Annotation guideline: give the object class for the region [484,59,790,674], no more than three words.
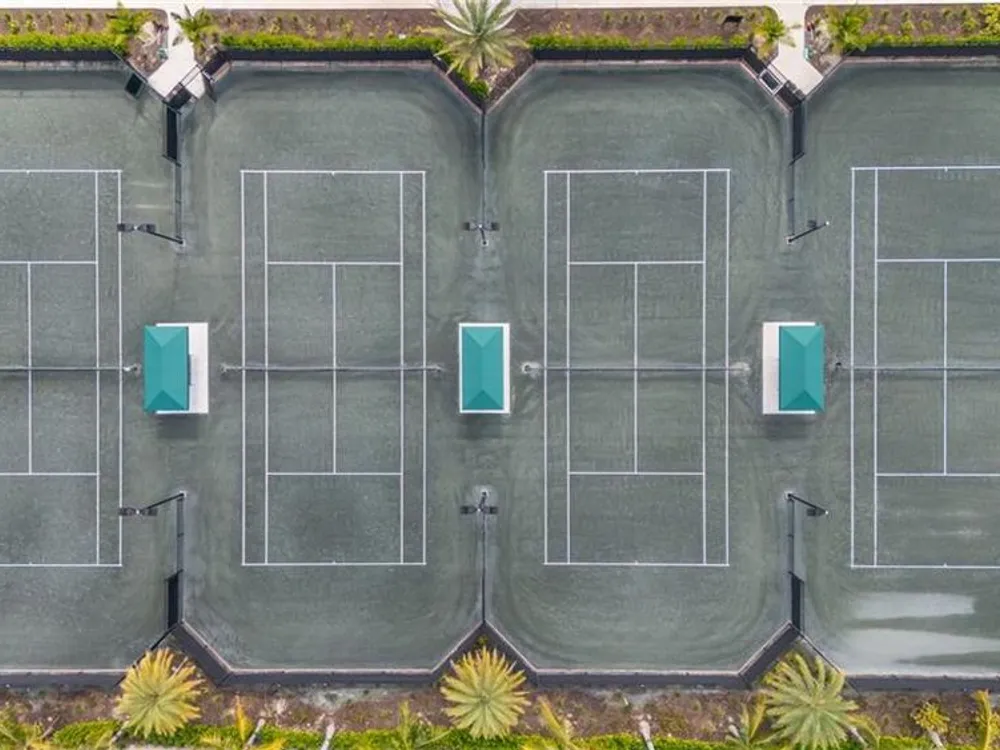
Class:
tennis court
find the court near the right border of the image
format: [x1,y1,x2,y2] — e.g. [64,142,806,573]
[790,57,1000,675]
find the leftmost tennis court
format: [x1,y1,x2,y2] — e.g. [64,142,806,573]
[0,62,183,672]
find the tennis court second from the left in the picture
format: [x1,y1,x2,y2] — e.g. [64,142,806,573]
[181,60,484,673]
